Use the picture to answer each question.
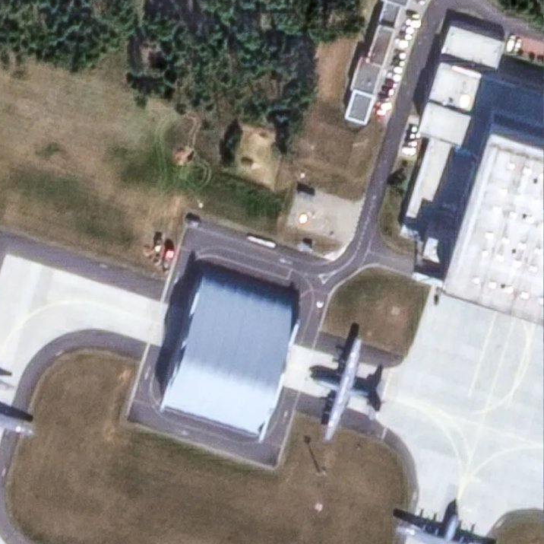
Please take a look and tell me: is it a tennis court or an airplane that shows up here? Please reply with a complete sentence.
Visible in the photo is an airplane.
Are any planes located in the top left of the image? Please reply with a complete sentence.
No, there is no plane in the top left of the image.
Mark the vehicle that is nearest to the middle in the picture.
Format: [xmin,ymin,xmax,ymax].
[247,232,276,248]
